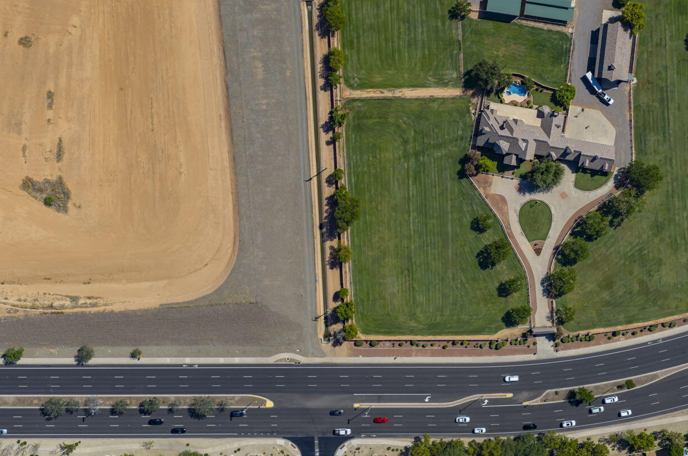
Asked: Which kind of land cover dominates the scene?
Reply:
paved ground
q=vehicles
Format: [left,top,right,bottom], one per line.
[473,428,485,433]
[590,405,603,413]
[335,429,350,435]
[375,416,387,422]
[562,420,576,427]
[456,416,468,422]
[172,427,186,433]
[597,91,612,104]
[330,410,344,415]
[0,429,7,435]
[505,375,518,381]
[524,423,538,429]
[231,411,246,416]
[618,410,631,418]
[149,418,163,424]
[603,396,617,403]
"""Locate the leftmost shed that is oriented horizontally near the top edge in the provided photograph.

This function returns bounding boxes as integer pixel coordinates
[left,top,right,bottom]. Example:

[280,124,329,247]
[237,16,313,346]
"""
[487,0,522,16]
